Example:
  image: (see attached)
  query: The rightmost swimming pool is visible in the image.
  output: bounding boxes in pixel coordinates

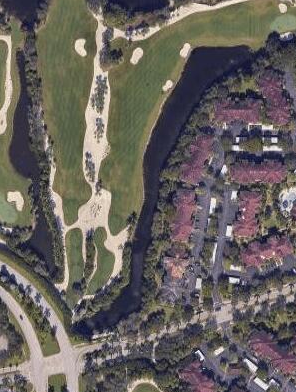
[279,188,296,217]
